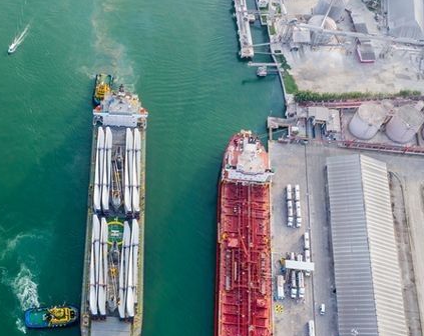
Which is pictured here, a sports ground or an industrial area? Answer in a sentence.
The area seen from above is an industrial area.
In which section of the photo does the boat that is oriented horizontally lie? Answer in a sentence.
You can find the boat that is oriented horizontally in the bottom left area of the picture.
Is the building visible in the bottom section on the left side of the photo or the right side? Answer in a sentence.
You can find the building visible in the bottom section on the right side of the picture.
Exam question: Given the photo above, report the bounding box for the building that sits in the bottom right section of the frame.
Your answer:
[323,157,408,336]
